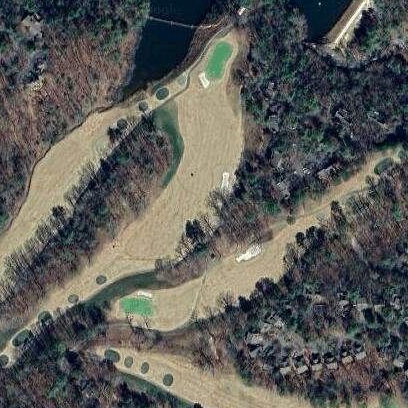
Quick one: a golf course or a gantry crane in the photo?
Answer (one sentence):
I can see a golf course in this picture.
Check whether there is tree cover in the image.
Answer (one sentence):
Yes, the picture does contain tree cover.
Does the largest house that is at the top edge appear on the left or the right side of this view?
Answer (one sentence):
It is on the left.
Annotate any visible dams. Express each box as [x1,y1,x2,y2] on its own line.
[317,0,375,53]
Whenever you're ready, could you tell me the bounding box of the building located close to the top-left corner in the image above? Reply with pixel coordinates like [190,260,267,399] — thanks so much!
[21,14,42,40]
